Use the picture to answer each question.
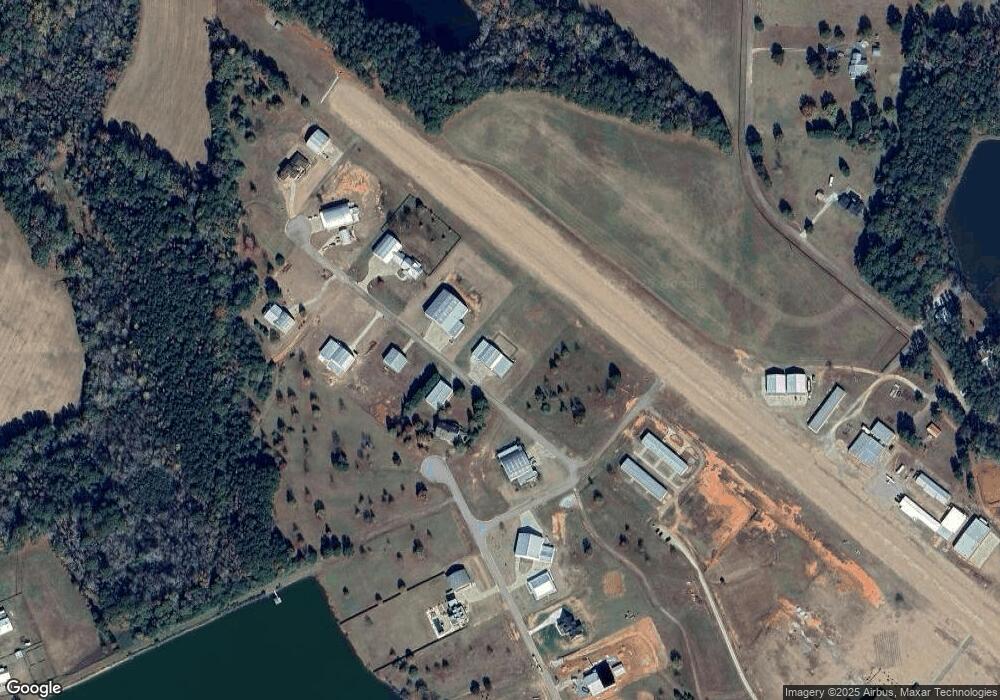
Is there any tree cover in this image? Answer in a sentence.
Yes, the picture does contain tree cover.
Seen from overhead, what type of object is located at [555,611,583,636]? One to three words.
house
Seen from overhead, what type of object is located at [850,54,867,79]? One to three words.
house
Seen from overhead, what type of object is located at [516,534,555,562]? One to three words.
hangar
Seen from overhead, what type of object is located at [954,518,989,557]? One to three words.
hangar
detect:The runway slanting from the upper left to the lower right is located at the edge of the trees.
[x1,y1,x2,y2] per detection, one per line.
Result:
[320,75,1000,676]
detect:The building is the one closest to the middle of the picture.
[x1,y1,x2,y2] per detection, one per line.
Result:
[472,340,514,379]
